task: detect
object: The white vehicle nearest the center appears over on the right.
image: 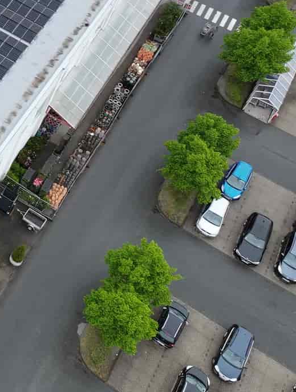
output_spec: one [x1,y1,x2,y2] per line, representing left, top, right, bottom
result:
[194,193,233,241]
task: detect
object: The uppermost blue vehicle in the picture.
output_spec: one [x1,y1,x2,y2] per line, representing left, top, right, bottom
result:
[220,160,256,203]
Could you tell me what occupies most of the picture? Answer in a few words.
paved ground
